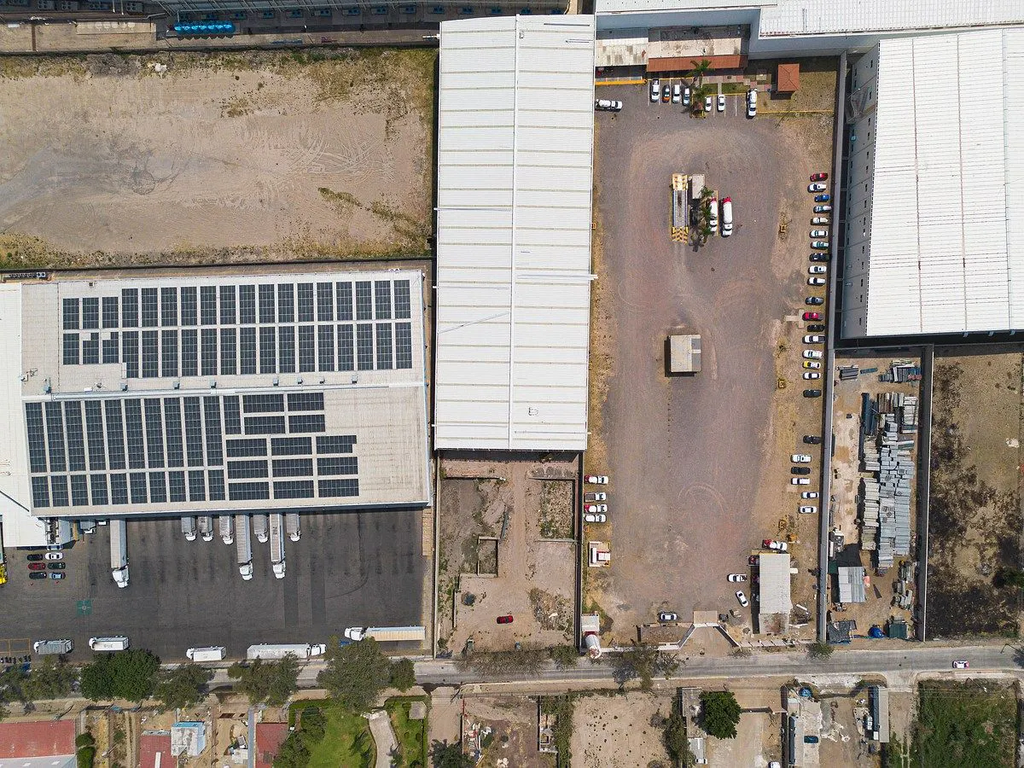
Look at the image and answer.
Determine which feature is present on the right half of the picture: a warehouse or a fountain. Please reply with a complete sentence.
There is a warehouse on the right half of the picture.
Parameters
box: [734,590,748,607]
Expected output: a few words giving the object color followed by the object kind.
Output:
white car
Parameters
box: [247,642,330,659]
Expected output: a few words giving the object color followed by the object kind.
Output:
white vehicle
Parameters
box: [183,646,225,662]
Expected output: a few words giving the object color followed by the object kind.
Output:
white vehicle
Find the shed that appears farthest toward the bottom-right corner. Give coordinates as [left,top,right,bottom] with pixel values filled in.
[869,678,889,742]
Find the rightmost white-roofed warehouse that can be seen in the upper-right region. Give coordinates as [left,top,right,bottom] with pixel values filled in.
[841,29,1024,339]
